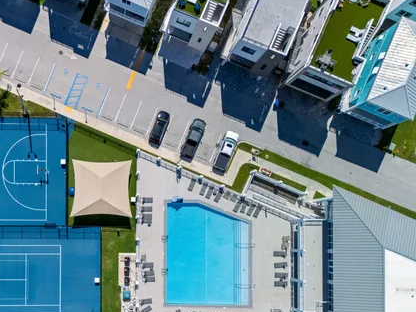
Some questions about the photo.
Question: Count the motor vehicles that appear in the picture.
3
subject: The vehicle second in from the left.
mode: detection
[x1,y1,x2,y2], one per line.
[180,121,205,161]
